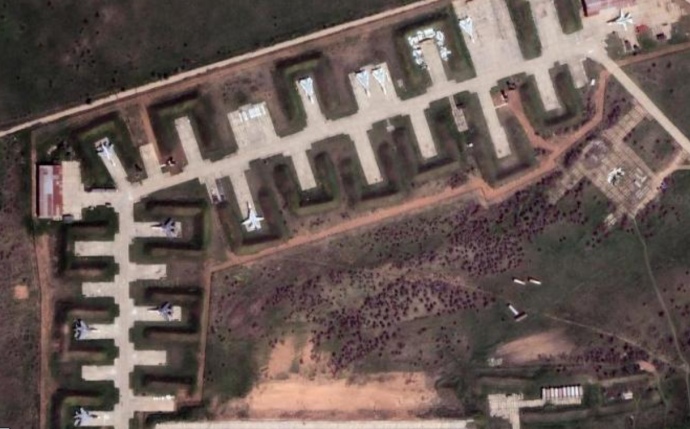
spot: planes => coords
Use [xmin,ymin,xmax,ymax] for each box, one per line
[241,202,263,232]
[148,303,173,321]
[356,69,371,96]
[606,10,635,32]
[73,322,100,339]
[300,77,313,104]
[371,67,385,95]
[73,408,100,426]
[150,220,177,238]
[460,18,474,43]
[98,141,115,166]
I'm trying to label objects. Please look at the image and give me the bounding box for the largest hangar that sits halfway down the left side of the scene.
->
[38,164,63,218]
